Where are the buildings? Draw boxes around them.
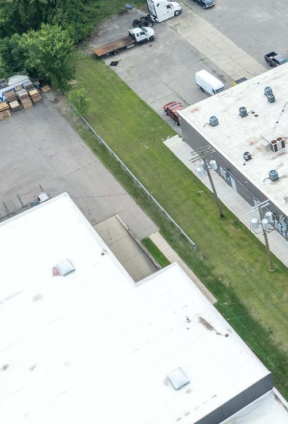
[0,193,273,424]
[177,62,288,238]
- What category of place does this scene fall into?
industrial area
